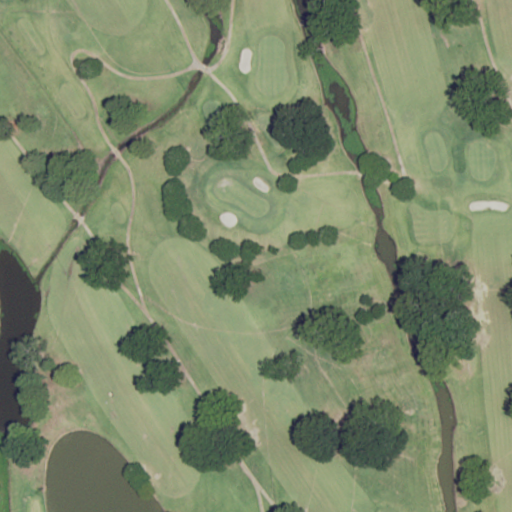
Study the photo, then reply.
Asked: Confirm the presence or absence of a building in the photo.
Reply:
No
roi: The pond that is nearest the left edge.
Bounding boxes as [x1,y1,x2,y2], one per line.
[0,254,40,432]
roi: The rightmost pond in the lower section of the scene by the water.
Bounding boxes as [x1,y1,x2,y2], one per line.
[46,431,164,512]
